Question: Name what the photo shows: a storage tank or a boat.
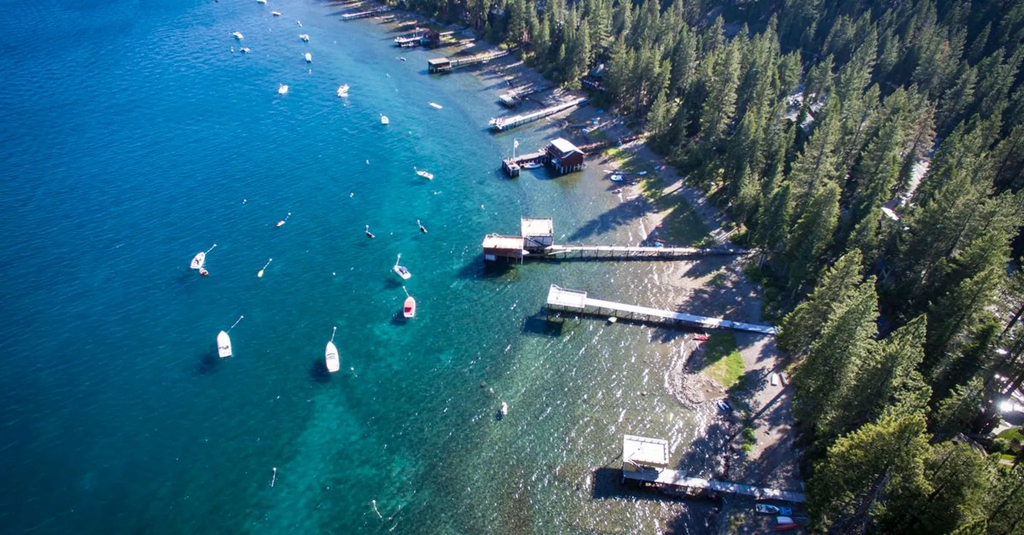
boat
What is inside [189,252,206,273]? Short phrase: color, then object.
white boat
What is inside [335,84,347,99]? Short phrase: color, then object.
white boat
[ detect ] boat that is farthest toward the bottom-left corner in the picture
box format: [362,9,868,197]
[216,329,232,361]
